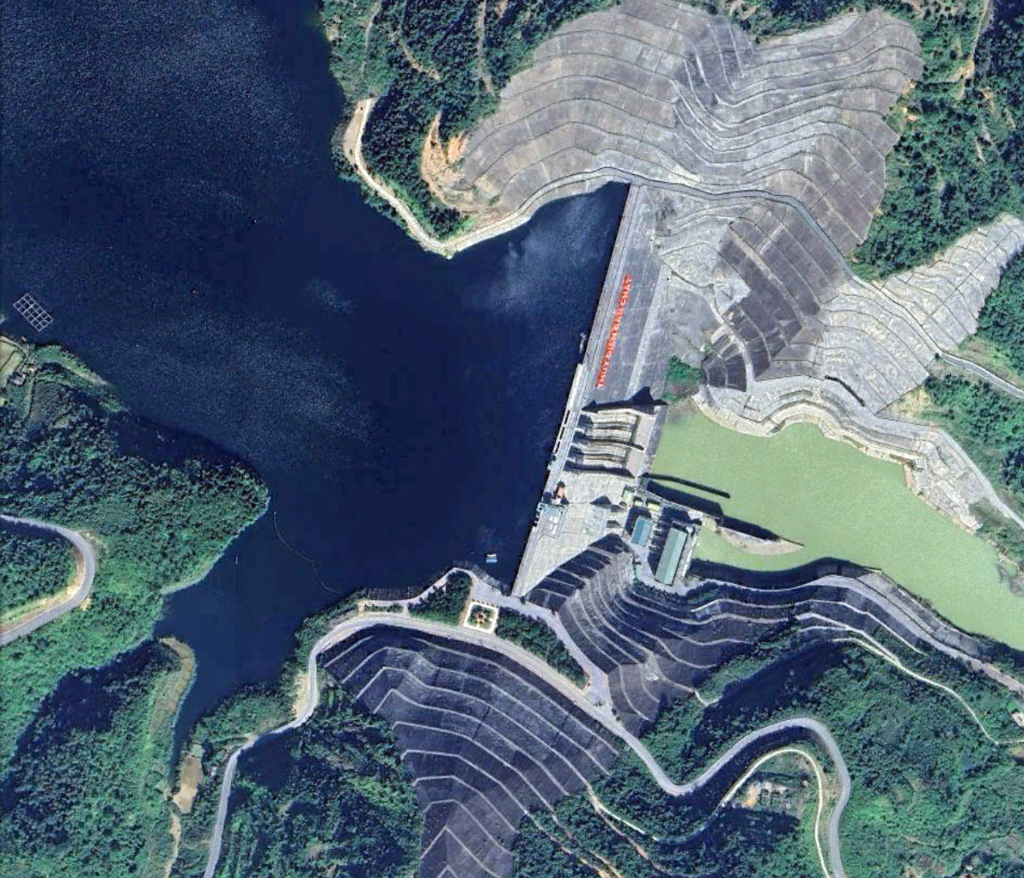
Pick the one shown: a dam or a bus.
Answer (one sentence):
Looking from above, you can make out a dam.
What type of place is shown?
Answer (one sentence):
The area seen from above is a port.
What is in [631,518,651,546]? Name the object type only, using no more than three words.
building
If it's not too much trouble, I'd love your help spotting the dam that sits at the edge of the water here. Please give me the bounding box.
[512,181,670,598]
